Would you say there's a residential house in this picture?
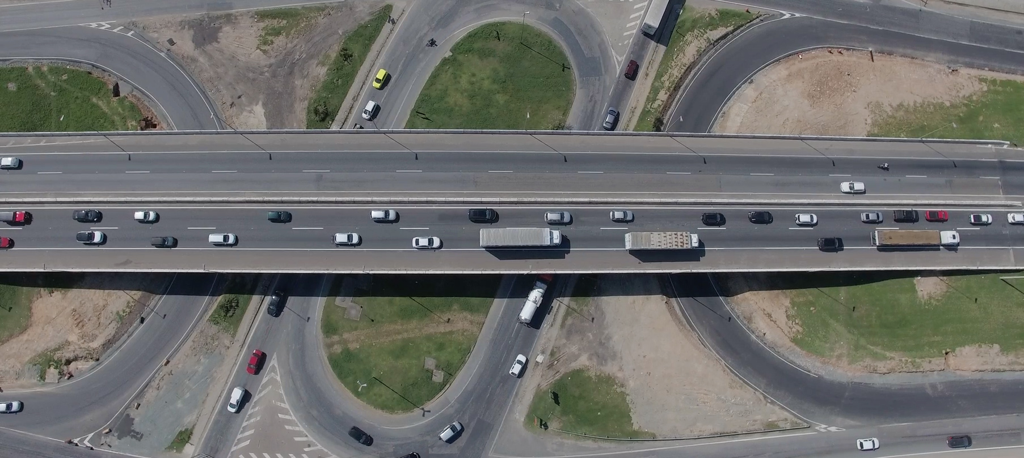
No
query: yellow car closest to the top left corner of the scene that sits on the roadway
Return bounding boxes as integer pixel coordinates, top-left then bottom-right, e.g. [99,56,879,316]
[372,67,388,88]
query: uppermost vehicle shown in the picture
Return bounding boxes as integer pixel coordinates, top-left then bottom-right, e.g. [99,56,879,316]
[644,0,672,34]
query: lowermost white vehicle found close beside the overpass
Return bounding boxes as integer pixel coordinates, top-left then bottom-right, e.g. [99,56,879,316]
[518,274,556,328]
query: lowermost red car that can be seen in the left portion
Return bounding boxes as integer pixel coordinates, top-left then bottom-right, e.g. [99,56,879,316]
[245,349,263,377]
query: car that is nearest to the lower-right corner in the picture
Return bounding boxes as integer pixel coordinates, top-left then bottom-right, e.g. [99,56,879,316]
[947,436,975,450]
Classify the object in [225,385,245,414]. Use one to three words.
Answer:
vehicle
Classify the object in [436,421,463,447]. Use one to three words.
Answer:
car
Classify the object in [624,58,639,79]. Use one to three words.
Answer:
car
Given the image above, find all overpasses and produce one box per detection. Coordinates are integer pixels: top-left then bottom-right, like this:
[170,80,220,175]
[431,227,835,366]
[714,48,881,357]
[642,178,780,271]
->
[0,130,1024,274]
